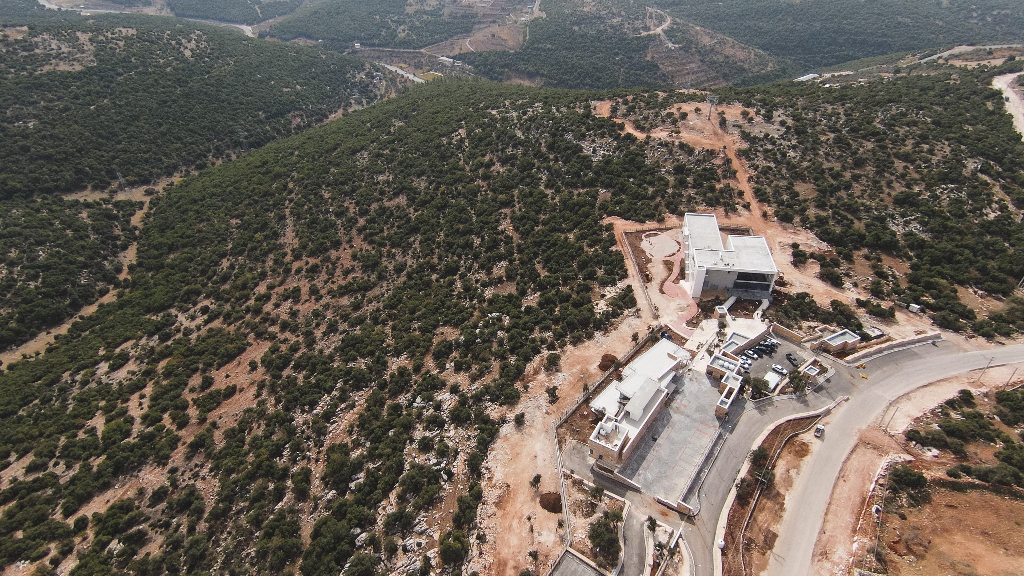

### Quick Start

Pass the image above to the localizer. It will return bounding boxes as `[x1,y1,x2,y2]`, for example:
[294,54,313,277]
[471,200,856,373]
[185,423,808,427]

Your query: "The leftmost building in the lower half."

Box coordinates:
[588,336,682,468]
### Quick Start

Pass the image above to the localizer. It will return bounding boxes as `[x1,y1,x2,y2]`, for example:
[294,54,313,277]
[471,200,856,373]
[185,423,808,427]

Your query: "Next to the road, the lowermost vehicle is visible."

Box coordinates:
[813,422,827,439]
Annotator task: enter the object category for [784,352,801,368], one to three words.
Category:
vehicle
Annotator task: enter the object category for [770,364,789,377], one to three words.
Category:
vehicle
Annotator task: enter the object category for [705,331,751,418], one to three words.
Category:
building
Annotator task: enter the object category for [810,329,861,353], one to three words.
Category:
house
